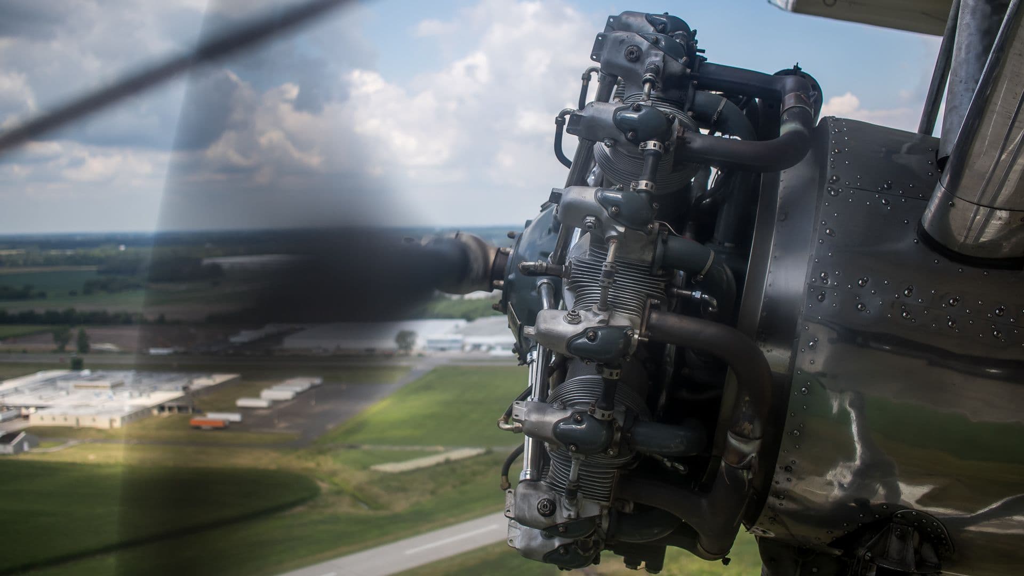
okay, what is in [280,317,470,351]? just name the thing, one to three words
building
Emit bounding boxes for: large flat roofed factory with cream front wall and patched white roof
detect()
[0,369,241,430]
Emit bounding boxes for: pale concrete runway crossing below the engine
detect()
[265,512,513,576]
